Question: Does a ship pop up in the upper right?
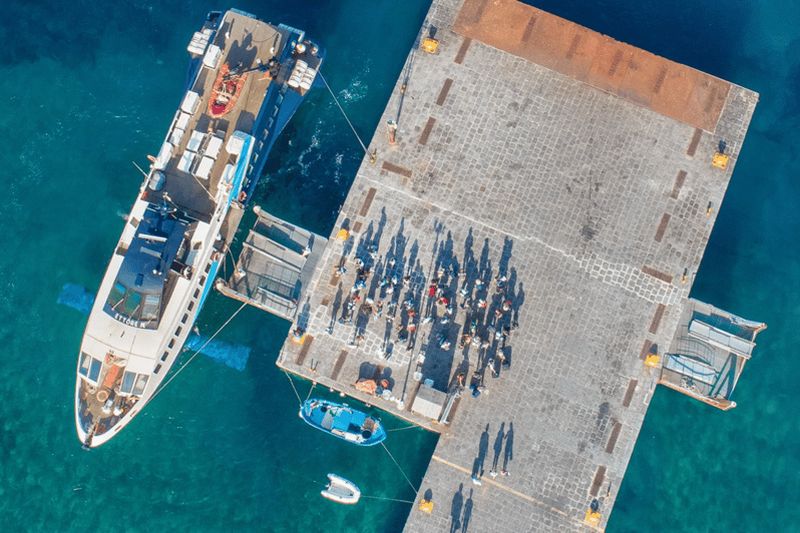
No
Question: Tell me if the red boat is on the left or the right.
left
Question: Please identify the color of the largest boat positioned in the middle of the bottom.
blue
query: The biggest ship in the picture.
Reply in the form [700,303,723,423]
[60,6,323,453]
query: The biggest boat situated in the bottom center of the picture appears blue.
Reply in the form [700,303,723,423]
[296,398,387,445]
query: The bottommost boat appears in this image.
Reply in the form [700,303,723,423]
[320,474,362,502]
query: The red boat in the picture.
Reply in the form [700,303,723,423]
[211,63,246,119]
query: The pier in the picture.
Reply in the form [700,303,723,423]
[277,0,759,533]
